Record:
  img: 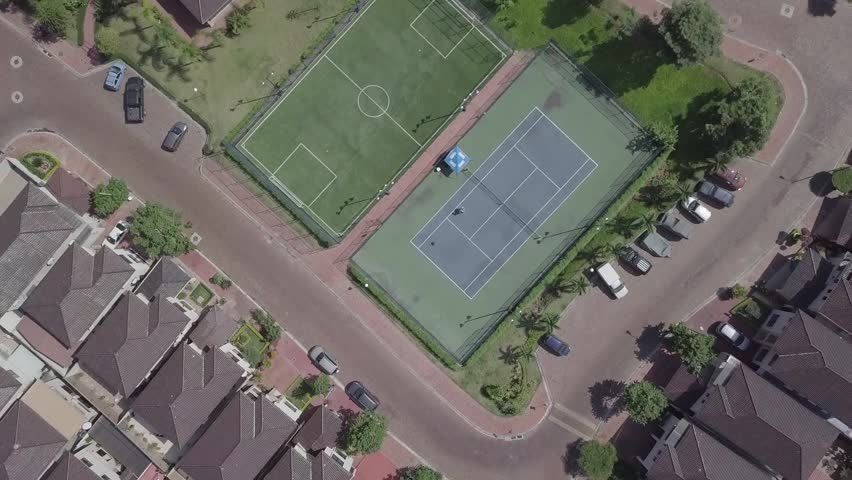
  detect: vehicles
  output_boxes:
[307,344,339,376]
[105,62,127,94]
[541,332,574,358]
[597,262,628,299]
[656,211,695,243]
[679,194,715,225]
[711,166,748,190]
[696,181,737,207]
[617,245,654,275]
[161,119,190,155]
[714,320,750,351]
[102,216,131,249]
[123,78,146,123]
[344,379,379,408]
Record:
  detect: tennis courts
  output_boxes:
[419,116,589,290]
[351,47,647,359]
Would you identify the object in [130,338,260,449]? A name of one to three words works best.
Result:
house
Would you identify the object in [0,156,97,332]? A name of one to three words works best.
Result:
house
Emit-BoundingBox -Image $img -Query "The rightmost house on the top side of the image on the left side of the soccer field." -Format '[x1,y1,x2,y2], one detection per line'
[178,0,240,33]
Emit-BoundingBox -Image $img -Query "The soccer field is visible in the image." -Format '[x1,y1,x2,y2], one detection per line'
[238,0,512,240]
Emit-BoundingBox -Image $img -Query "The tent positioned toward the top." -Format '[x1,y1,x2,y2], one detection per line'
[444,147,470,173]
